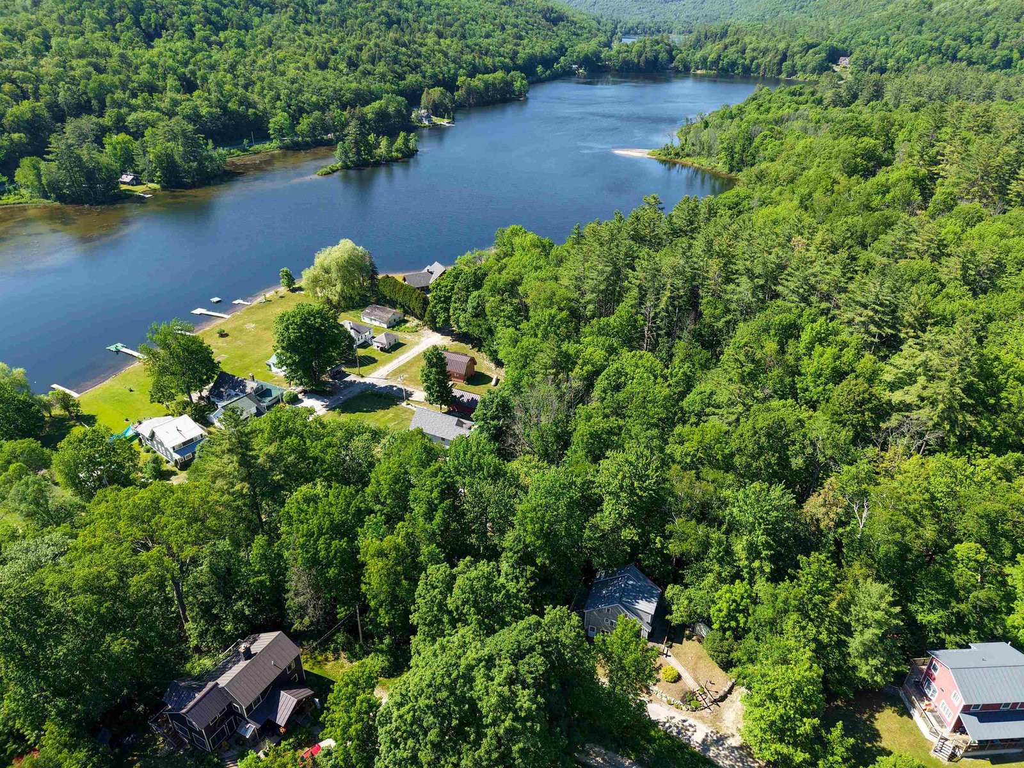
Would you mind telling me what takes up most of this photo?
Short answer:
trees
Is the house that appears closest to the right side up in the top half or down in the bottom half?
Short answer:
bottom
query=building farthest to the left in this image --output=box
[113,171,141,187]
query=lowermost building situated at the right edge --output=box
[895,639,1024,761]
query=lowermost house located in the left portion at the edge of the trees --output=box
[143,631,315,758]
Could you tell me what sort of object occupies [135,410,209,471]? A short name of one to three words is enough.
house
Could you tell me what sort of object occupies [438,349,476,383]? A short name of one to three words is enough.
barn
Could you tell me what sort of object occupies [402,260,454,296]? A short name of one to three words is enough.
house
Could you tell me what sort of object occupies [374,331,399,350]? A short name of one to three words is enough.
shed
